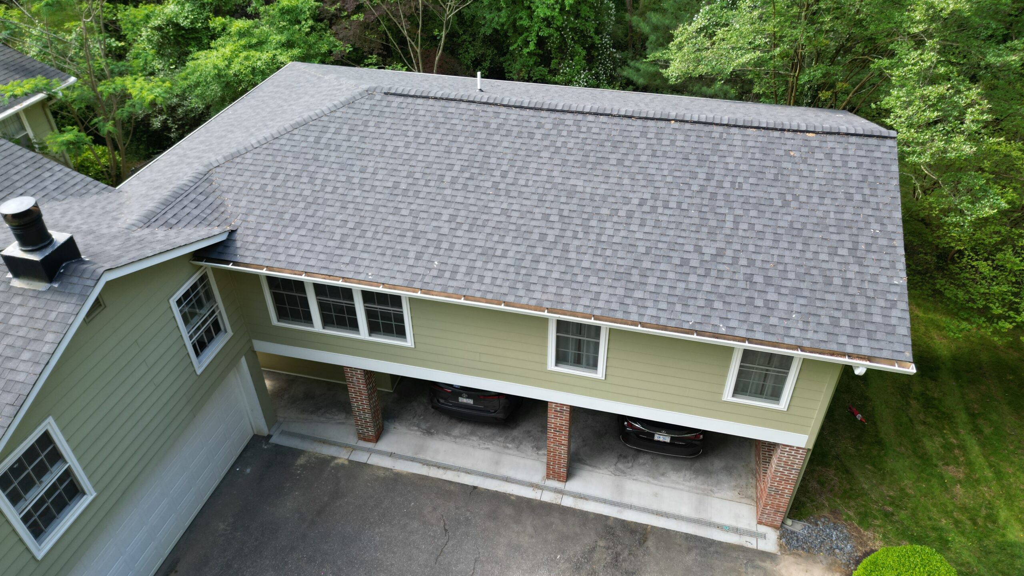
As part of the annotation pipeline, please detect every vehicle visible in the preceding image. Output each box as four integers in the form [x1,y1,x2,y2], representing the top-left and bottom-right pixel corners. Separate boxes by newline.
[618,416,708,458]
[431,382,521,422]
